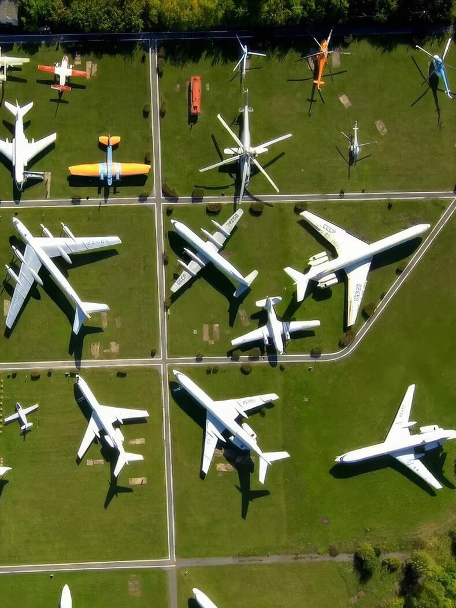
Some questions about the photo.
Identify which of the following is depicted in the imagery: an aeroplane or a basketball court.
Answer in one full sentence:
It is an aeroplane that can be seen here.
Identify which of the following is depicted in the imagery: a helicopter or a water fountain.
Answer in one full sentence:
I can see a helicopter in this picture.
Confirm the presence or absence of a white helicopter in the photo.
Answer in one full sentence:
Yes, there's a white helicopter down there.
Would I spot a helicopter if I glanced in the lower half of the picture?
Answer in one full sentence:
No, I can find no helicopter in the lower half of the picture.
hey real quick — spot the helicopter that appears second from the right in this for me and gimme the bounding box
[342,125,376,167]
